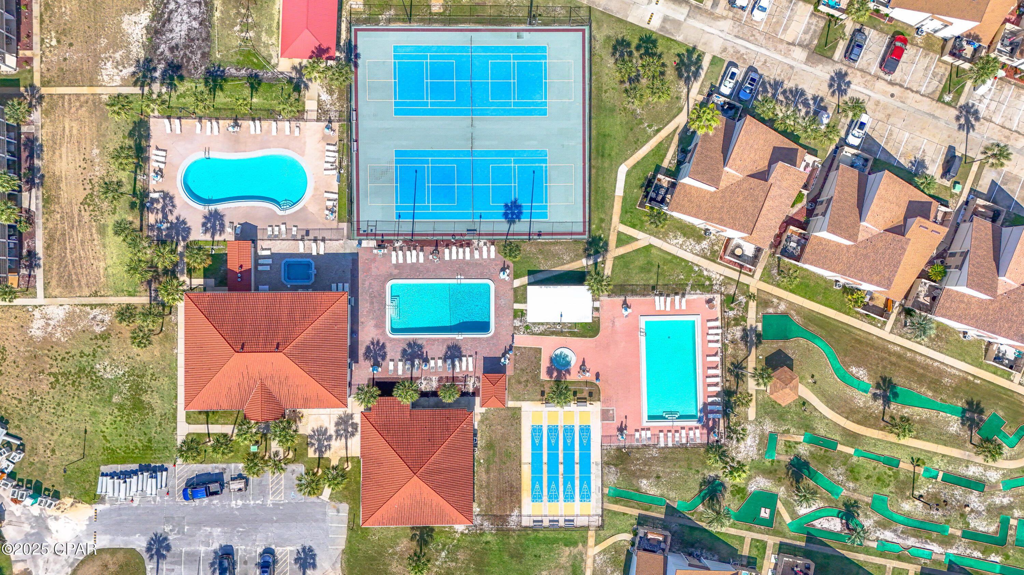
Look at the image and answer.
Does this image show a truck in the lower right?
No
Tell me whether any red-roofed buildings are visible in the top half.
Yes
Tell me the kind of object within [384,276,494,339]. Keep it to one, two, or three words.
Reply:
swimming pool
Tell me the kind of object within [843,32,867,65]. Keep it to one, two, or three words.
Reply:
car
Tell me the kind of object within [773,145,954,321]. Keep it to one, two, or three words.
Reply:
house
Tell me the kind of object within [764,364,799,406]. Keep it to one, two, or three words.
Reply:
gazebo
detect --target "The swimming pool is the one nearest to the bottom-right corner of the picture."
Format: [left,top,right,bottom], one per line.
[639,314,705,429]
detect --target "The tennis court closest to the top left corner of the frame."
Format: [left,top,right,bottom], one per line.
[350,25,589,239]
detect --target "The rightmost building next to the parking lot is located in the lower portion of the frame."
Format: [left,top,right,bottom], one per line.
[361,397,473,528]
